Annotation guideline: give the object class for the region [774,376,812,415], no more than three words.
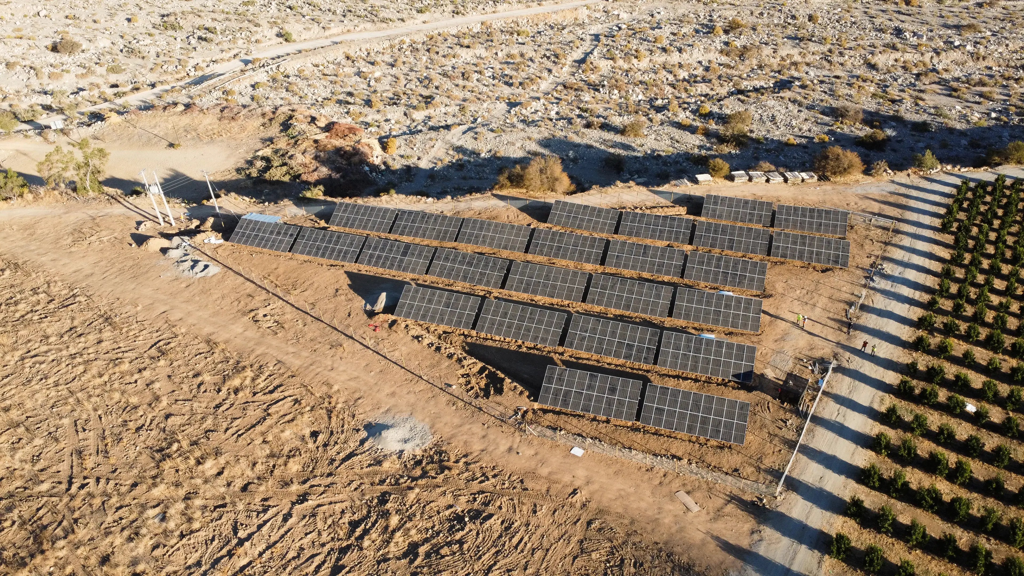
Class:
shed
